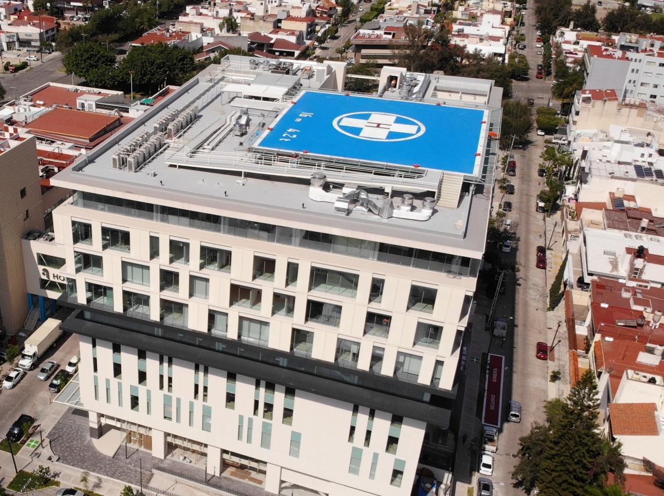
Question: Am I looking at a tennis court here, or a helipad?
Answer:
helipad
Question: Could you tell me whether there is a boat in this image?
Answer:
No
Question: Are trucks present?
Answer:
Yes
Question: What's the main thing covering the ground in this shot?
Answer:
buildings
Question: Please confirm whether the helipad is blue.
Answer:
Yes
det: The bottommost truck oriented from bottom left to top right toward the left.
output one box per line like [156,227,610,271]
[0,411,40,441]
